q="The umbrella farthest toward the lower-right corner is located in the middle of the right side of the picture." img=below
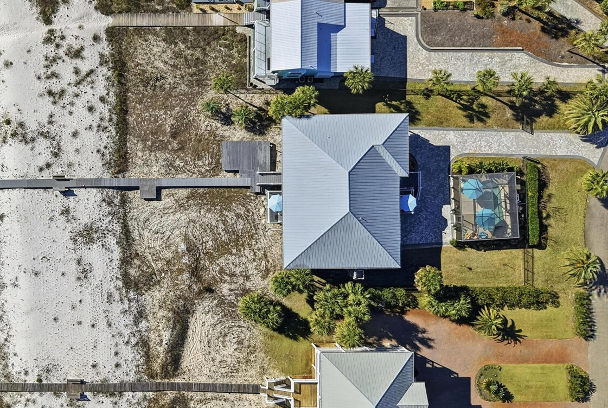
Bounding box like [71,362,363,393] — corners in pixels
[476,210,495,229]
